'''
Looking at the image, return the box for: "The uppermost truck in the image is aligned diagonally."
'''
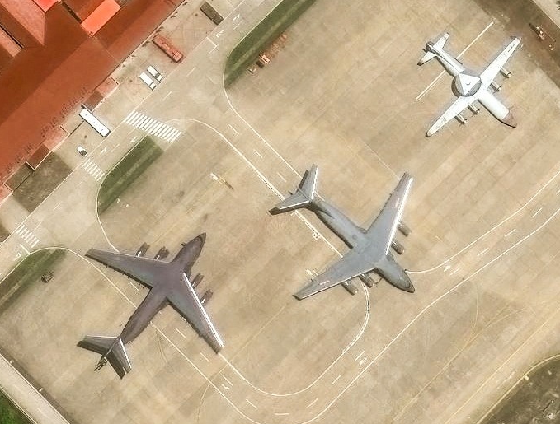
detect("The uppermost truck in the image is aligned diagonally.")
[199,0,224,23]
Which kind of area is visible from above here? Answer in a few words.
airport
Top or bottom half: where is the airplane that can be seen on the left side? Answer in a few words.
bottom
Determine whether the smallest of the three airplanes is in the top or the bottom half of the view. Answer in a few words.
top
